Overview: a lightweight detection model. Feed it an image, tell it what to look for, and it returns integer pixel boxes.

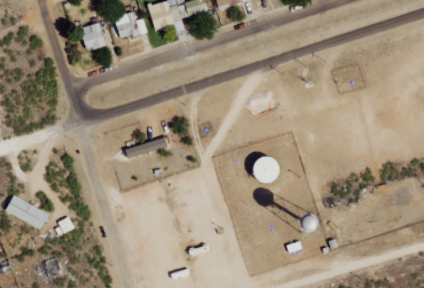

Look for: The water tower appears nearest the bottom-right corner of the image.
[294,212,320,236]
